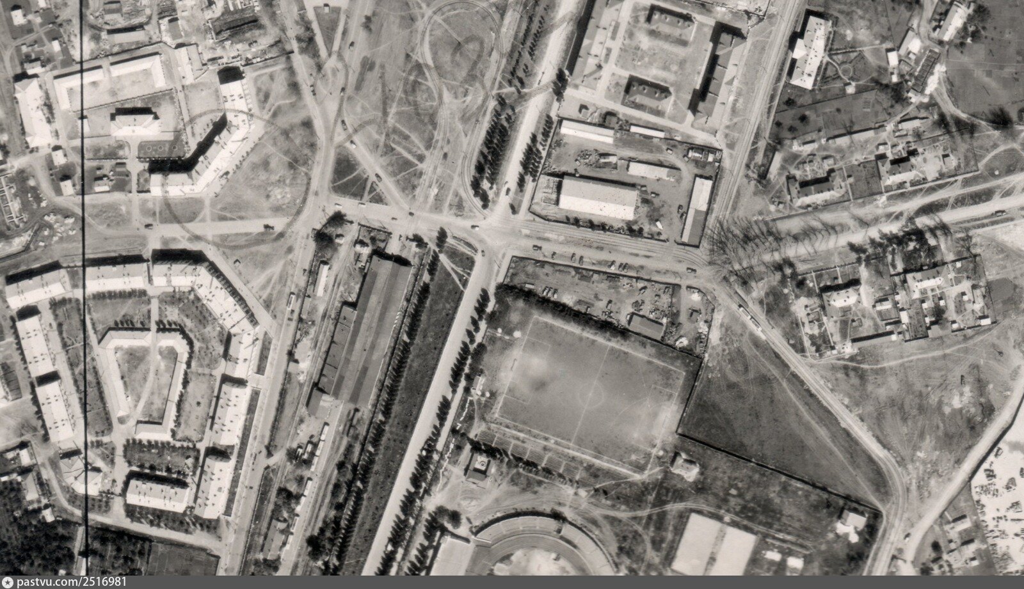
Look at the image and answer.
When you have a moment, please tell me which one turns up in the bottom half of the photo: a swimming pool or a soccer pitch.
soccer pitch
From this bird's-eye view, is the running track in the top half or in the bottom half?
bottom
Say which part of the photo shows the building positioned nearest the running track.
bottom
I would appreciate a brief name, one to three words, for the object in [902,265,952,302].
house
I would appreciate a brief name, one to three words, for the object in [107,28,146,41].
shed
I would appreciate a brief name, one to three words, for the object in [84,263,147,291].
building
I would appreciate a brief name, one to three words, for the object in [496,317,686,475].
soccer field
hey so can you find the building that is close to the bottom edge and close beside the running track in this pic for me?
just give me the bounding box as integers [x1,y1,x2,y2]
[429,537,472,583]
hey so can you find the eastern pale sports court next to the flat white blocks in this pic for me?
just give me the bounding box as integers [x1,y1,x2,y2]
[707,526,757,581]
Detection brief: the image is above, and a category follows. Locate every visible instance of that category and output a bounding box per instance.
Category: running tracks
[462,536,602,589]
